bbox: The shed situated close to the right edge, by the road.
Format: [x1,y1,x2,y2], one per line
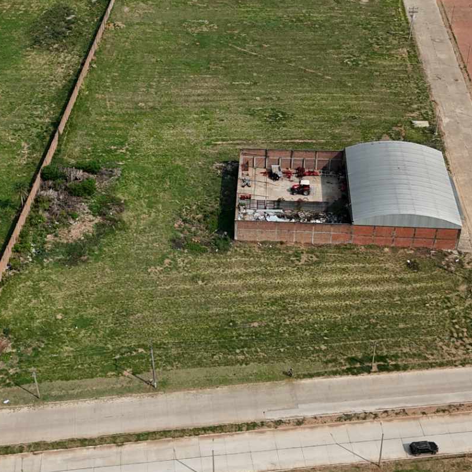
[342,141,468,249]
